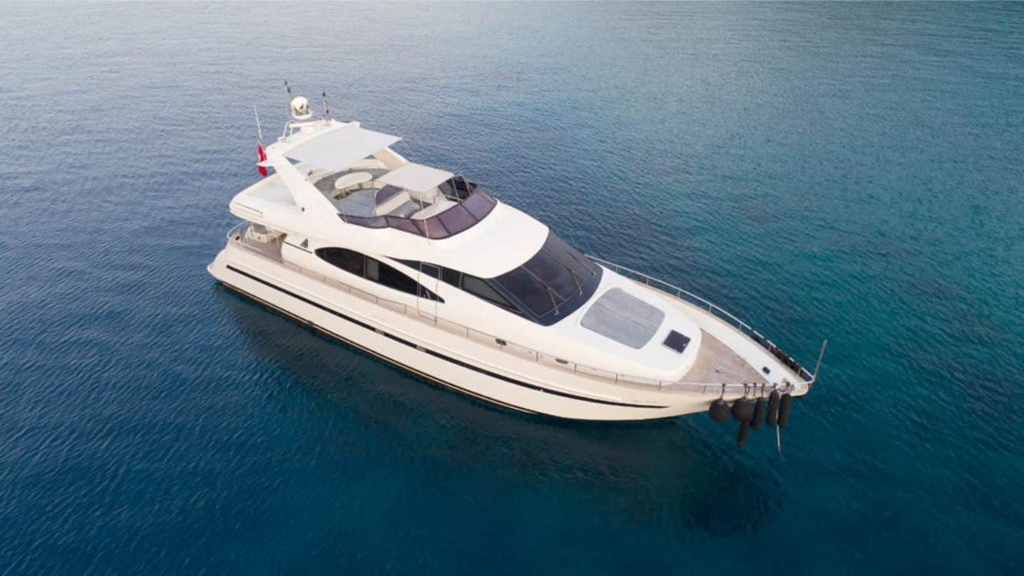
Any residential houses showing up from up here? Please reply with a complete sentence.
No, there appears to be no residential house in this shot.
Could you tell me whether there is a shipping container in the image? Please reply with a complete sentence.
No, there appears to be no shipping container in this shot.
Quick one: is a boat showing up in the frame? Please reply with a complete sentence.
Yes, a boat is visible in the scene.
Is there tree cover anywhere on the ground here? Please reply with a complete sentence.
No, no tree cover is visible.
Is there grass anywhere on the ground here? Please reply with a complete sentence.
No, the scene doesn't show any grass.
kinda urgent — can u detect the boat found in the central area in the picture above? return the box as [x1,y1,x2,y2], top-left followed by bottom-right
[207,84,829,420]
